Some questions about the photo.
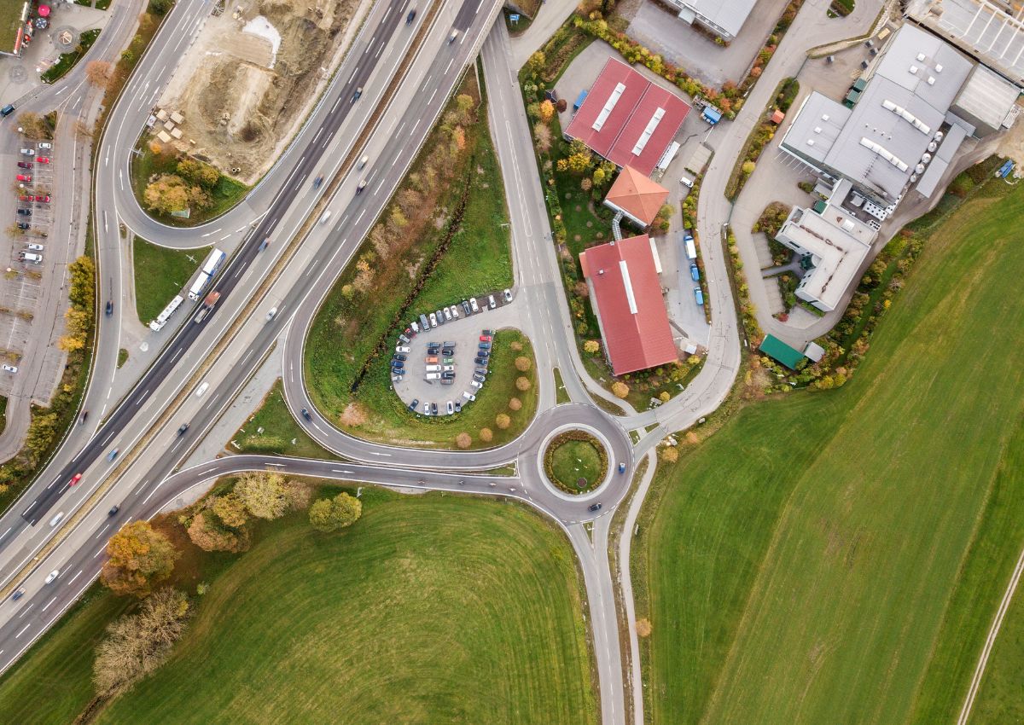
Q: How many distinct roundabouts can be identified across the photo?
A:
1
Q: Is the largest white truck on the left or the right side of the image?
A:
left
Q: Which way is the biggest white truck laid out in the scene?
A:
on a diagonal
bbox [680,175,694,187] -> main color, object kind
white vehicle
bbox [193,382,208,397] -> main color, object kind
white vehicle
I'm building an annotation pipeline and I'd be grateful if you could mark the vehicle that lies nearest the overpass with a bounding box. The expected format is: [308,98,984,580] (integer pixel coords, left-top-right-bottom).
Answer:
[446,26,459,43]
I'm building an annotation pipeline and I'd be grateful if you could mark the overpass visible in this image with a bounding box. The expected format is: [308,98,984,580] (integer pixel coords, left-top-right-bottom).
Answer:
[463,0,508,74]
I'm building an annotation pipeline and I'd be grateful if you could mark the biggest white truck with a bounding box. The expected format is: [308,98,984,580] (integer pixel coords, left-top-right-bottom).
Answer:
[183,245,222,298]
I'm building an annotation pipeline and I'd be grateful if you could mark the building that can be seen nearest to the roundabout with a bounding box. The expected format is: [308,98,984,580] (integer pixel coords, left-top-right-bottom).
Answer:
[579,234,678,376]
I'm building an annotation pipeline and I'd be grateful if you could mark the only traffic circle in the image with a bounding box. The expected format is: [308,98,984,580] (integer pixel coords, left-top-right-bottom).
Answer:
[517,403,635,521]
